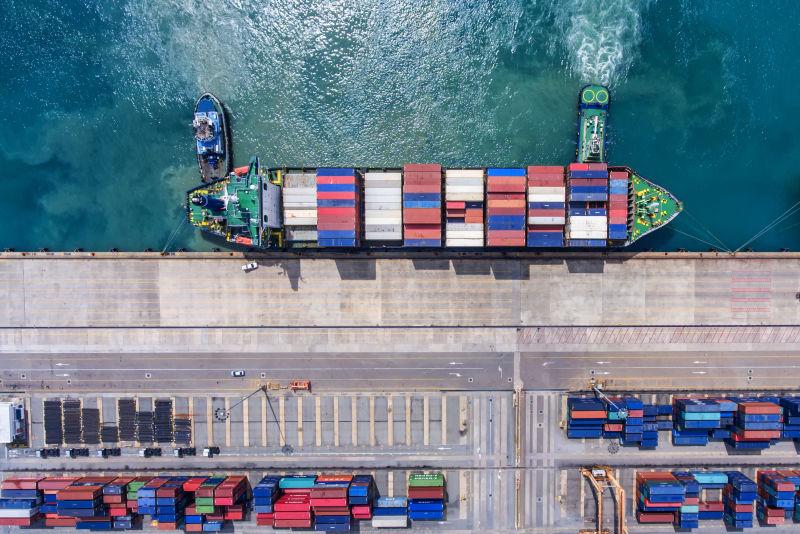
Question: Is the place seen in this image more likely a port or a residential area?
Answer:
port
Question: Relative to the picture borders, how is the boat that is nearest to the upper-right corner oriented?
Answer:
vertically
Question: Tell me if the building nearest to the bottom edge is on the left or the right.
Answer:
left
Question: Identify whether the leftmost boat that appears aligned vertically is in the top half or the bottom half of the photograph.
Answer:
top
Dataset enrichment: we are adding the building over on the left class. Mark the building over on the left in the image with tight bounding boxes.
[0,400,33,446]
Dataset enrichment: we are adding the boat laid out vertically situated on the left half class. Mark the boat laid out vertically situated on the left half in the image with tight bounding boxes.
[192,91,230,183]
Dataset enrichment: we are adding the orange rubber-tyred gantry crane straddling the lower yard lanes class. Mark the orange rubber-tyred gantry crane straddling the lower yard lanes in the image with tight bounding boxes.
[580,468,627,534]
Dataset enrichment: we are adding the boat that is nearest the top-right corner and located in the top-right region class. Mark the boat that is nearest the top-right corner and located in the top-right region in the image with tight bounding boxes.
[574,83,610,164]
